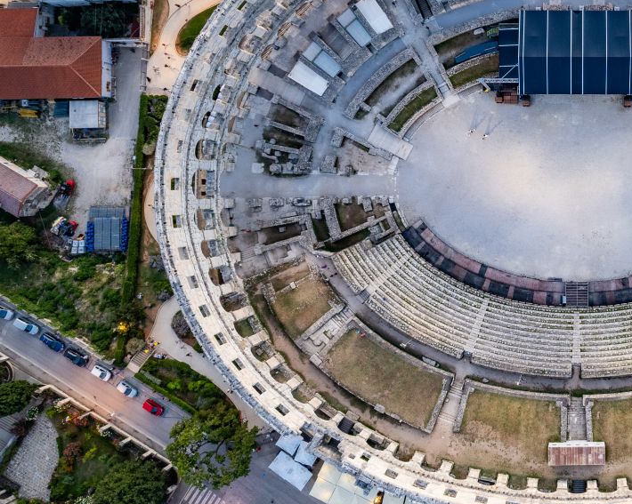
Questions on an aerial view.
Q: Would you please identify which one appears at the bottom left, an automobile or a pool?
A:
automobile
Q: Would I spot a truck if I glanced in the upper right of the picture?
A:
No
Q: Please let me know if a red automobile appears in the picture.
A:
Yes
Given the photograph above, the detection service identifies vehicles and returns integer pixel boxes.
[47,216,77,240]
[89,362,114,381]
[38,331,66,351]
[0,304,17,322]
[141,397,166,416]
[10,314,41,336]
[115,379,140,398]
[63,345,90,365]
[49,180,73,208]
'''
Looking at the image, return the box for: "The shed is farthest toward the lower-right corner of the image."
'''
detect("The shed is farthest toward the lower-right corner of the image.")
[549,440,605,466]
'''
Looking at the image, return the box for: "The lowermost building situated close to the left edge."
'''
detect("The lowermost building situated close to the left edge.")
[0,155,54,217]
